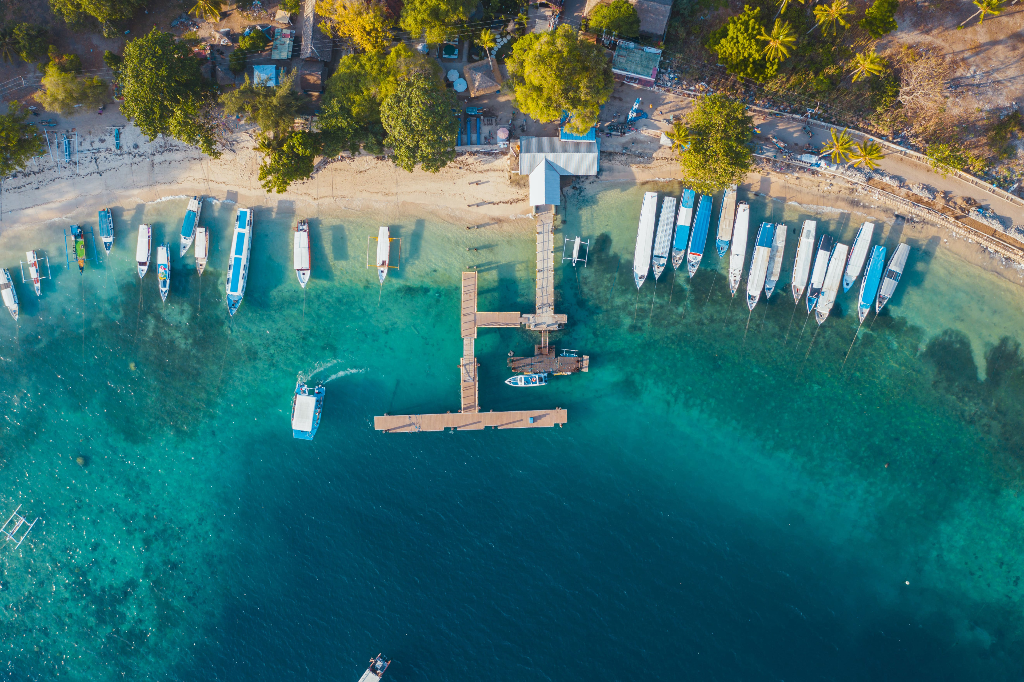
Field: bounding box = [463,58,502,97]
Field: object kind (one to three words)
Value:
building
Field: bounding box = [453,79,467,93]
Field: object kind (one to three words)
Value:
umbrella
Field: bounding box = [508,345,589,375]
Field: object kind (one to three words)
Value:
pier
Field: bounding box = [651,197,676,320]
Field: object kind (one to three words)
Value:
boat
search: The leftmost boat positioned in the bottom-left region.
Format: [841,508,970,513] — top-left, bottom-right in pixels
[0,505,37,549]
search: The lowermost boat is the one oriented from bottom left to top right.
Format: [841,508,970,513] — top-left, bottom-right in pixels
[357,646,396,682]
